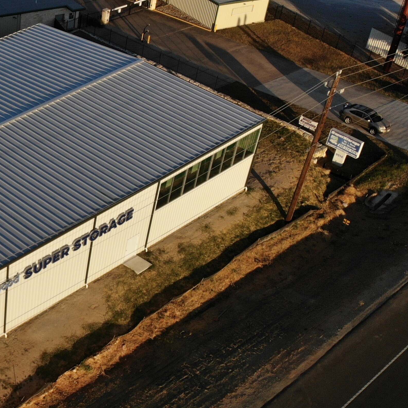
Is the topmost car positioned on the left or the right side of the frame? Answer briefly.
right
